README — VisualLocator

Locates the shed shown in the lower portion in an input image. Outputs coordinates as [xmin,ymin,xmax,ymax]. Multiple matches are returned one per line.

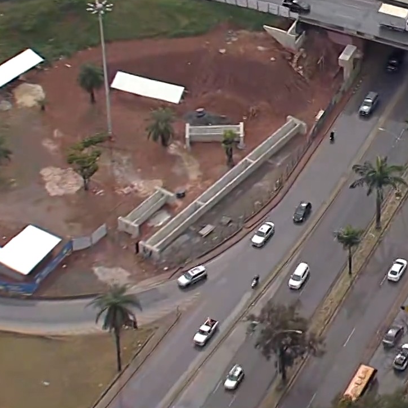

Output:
[0,225,61,284]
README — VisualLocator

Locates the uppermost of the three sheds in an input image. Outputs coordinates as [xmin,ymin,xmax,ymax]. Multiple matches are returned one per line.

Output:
[0,48,43,86]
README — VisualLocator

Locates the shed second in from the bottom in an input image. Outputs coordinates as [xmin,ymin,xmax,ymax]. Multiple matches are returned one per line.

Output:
[112,72,184,116]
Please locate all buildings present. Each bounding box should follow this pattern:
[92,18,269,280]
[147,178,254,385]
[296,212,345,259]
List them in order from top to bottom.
[0,48,43,86]
[112,72,184,116]
[0,225,61,284]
